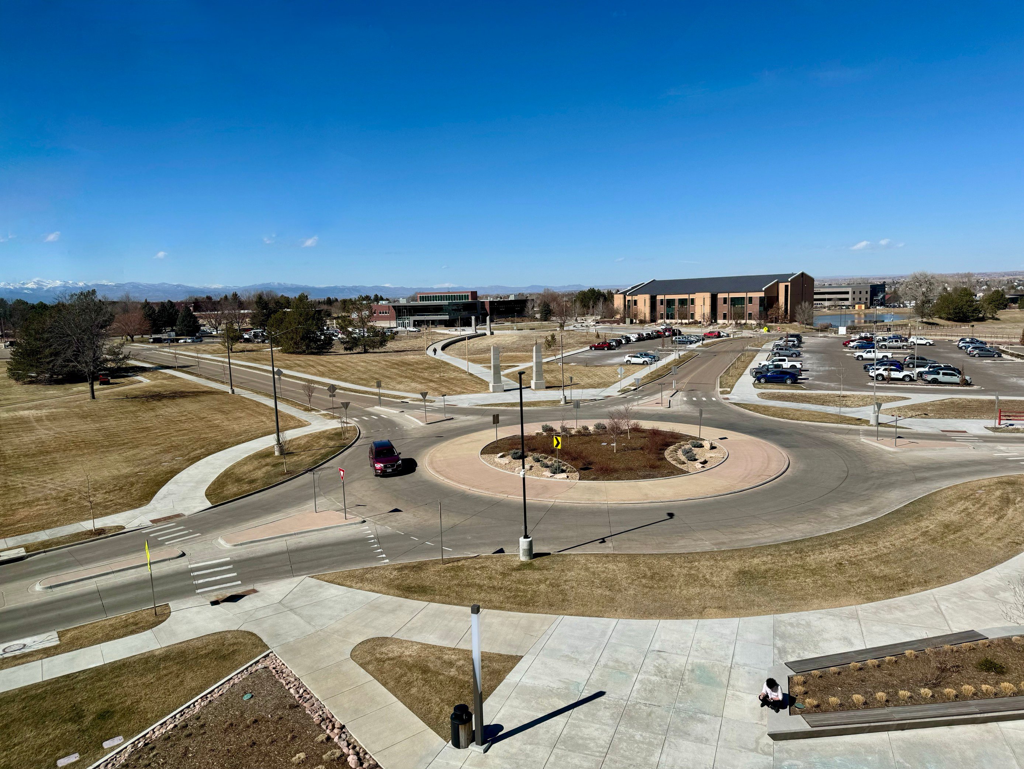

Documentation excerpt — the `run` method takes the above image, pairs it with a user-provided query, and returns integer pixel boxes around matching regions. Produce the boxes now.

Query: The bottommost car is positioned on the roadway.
[365,436,402,472]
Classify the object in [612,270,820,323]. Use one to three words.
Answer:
building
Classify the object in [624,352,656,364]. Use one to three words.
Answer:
vehicle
